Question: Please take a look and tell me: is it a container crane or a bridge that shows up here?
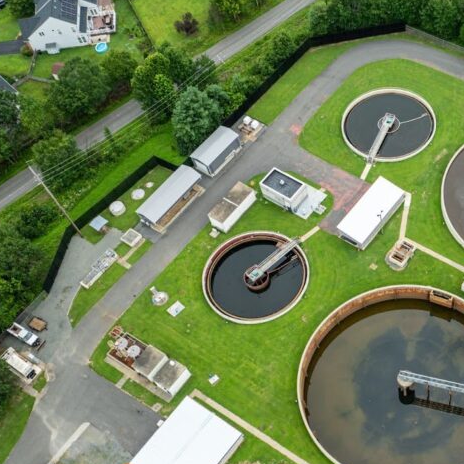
bridge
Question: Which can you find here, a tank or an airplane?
tank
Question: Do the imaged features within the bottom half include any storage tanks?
Yes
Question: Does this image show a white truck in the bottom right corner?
No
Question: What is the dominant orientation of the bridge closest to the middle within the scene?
on a diagonal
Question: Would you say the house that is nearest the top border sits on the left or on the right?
left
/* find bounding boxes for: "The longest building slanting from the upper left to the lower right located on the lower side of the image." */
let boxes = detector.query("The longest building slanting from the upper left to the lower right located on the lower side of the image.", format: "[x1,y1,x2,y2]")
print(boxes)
[107,330,190,402]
